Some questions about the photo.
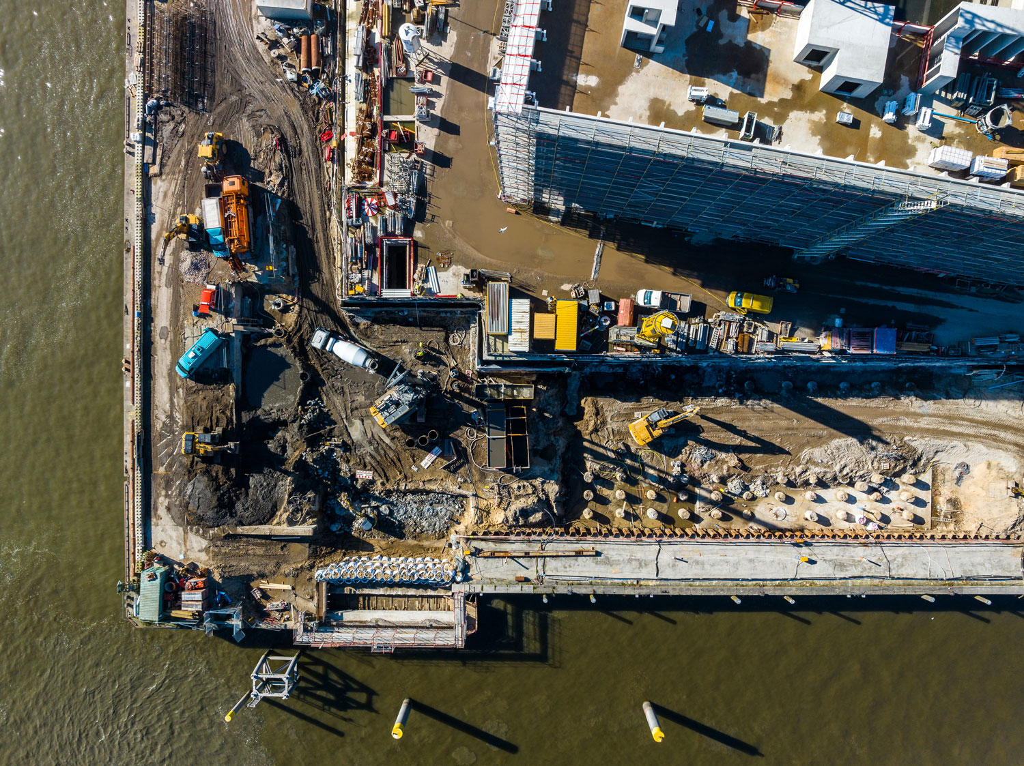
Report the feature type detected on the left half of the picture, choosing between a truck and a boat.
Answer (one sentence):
You can see a truck on the left half of the picture.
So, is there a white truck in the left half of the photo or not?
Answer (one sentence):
Yes, I can see a white truck in the left half of the photo.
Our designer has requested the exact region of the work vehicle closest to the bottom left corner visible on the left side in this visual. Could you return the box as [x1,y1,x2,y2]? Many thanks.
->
[169,428,241,464]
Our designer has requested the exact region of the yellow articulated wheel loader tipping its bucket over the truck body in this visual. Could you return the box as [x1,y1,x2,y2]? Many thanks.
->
[193,122,227,192]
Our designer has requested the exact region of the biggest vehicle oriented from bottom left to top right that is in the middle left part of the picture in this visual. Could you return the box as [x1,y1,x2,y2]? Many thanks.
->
[175,329,233,382]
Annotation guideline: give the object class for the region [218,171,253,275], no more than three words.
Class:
truck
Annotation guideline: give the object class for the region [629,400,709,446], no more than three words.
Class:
work vehicle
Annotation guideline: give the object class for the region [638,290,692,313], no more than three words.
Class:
truck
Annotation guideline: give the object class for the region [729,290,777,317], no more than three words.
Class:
vehicle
